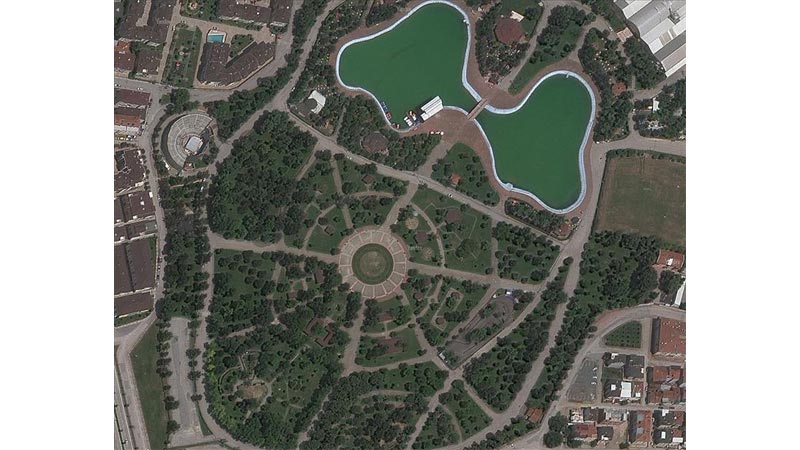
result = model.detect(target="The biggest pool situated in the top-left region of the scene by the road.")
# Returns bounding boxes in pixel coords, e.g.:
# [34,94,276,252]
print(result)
[206,30,227,44]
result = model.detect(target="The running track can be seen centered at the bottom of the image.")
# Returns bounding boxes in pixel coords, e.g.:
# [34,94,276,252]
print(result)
[445,295,515,366]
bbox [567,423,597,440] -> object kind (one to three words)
house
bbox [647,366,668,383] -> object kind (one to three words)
house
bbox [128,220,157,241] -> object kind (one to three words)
building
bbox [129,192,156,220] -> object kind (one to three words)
building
